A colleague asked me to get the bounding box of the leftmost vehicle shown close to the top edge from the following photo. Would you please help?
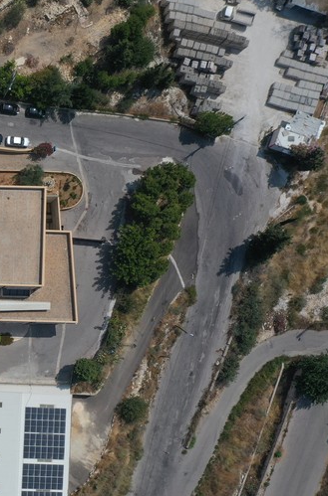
[218,3,252,25]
